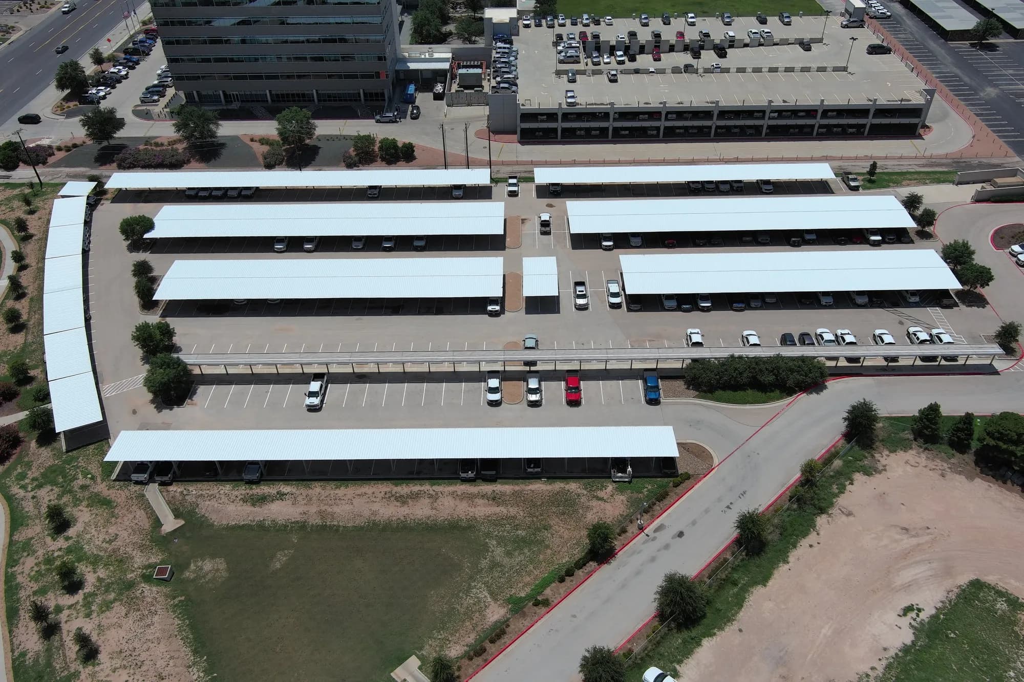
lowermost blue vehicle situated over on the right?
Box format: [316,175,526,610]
[641,372,661,404]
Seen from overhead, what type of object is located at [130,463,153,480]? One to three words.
vehicle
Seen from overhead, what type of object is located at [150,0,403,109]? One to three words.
building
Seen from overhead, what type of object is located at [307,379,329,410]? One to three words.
truck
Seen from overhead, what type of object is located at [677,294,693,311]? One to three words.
car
